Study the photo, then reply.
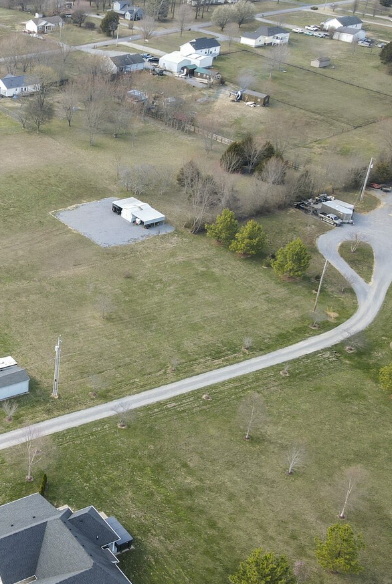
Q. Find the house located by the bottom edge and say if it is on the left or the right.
left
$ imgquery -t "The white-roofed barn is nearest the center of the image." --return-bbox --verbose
[109,197,166,230]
